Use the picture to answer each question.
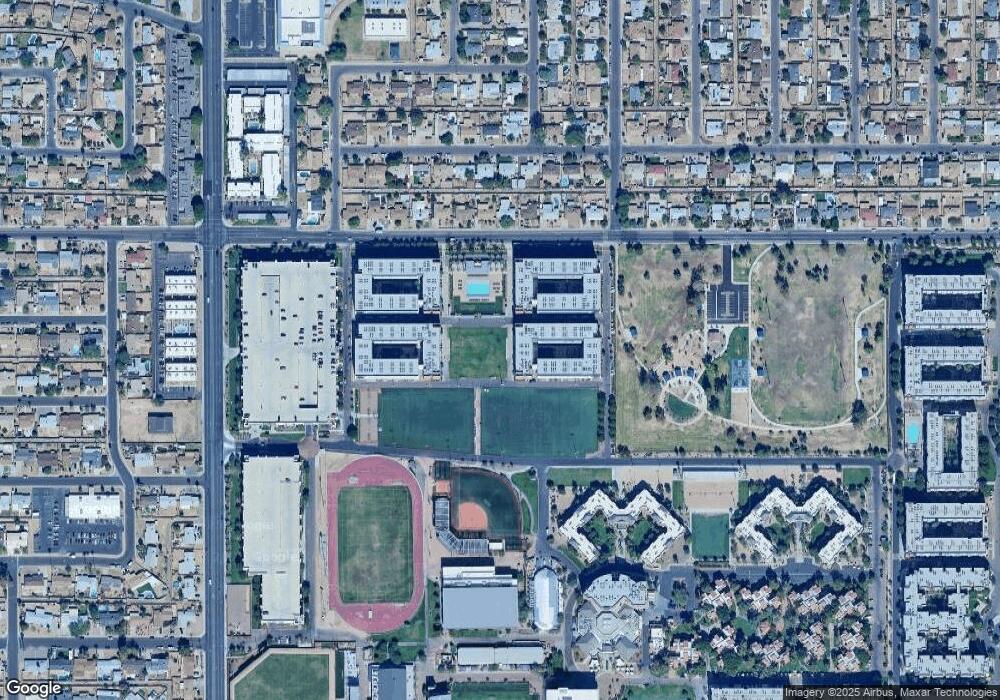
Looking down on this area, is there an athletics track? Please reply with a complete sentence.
Yes, an athletics track can be made out from above.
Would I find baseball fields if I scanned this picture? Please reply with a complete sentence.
Yes, a baseball field appears in the view.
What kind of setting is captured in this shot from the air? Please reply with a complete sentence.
The area seen from above is a residential area.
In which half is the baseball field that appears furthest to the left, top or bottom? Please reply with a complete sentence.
The baseball field that appears furthest to the left is in the bottom half of the image.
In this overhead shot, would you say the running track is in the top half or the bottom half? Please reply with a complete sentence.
The running track is in the bottom half of the image.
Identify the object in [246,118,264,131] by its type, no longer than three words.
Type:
swimming pool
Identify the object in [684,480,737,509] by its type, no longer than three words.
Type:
sports court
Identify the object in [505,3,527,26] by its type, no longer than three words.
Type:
house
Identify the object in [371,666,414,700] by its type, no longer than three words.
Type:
building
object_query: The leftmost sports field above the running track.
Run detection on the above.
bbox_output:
[379,389,474,453]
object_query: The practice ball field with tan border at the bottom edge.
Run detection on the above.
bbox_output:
[229,647,334,700]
